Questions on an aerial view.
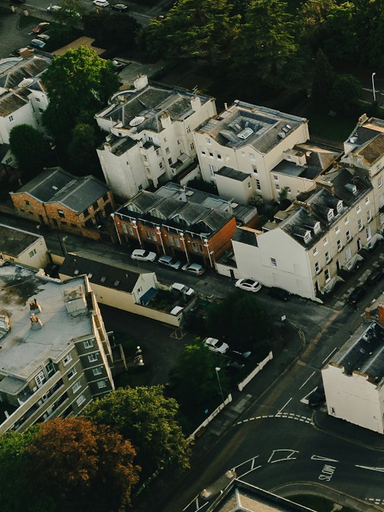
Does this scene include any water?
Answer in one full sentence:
No, there is no water in the image.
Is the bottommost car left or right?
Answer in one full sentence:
The bottommost car sits on the right side.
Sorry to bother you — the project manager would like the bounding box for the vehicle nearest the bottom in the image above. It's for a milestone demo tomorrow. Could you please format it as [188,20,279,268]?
[302,385,329,410]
